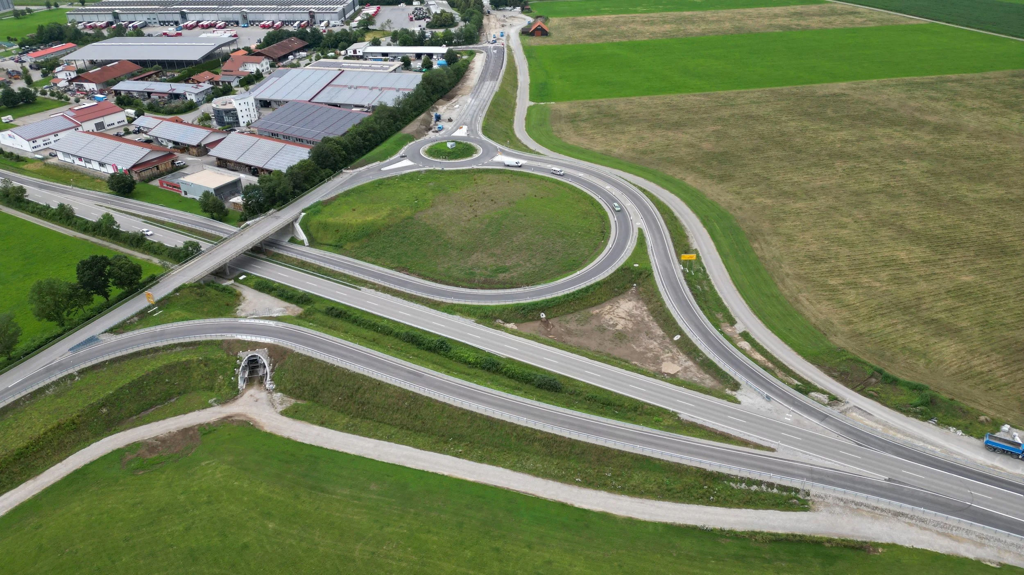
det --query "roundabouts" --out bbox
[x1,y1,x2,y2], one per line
[405,136,496,167]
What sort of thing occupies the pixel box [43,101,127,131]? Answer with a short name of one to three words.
building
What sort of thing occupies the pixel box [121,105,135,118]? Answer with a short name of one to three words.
vehicle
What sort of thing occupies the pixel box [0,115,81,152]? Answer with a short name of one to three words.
building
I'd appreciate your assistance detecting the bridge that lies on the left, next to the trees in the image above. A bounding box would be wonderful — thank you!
[158,201,309,286]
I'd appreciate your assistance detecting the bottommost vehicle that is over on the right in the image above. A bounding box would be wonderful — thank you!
[989,434,1024,460]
